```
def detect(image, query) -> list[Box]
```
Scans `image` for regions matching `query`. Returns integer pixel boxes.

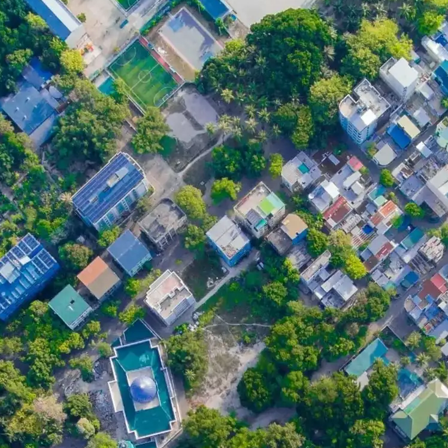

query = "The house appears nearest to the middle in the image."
[206,216,251,262]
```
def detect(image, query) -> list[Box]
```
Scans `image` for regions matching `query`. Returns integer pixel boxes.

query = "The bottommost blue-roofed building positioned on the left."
[108,319,180,448]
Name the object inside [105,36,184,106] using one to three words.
soccer field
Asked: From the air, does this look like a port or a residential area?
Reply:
residential area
